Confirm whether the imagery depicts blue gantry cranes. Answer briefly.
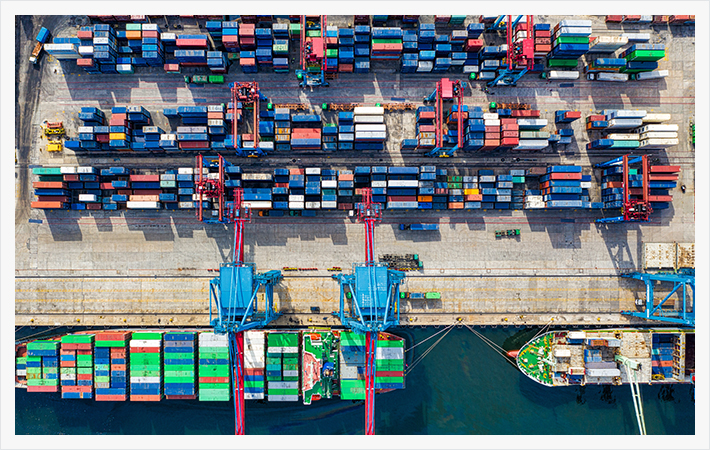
Yes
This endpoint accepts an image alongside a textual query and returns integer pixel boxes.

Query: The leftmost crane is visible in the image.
[196,155,241,227]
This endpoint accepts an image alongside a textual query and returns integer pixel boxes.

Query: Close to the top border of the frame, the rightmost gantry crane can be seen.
[487,4,535,89]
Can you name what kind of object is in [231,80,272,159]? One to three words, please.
container crane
